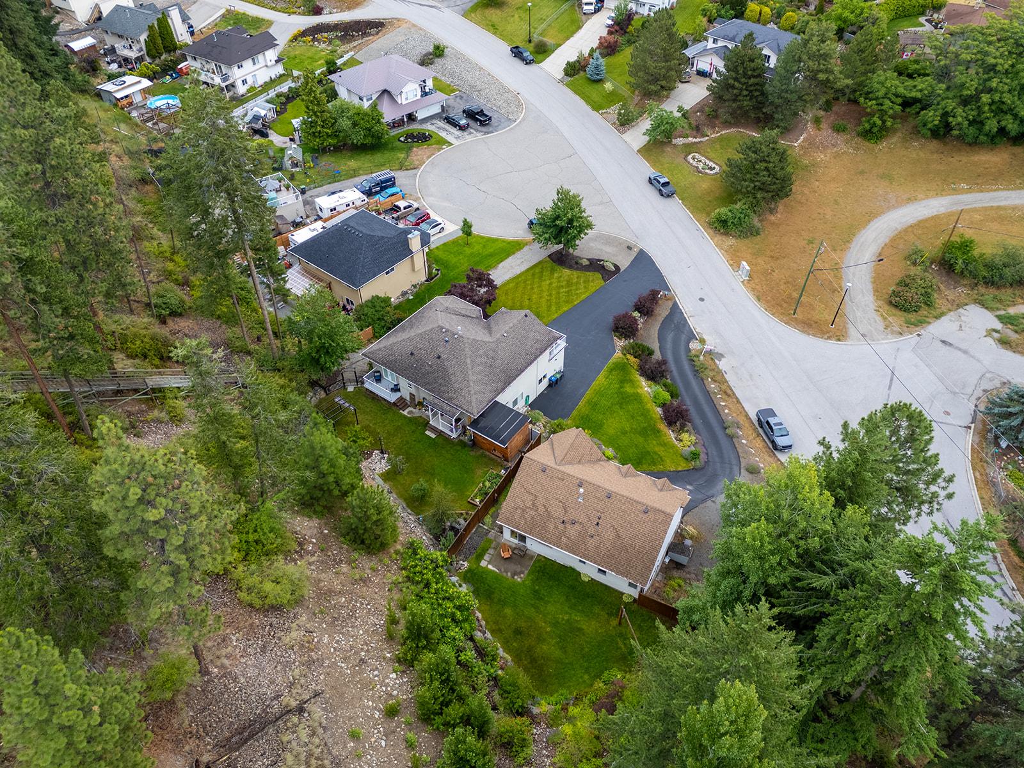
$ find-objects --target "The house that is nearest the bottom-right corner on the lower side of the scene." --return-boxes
[495,427,691,594]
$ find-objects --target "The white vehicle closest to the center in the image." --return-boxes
[423,218,446,235]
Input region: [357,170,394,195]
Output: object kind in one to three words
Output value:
truck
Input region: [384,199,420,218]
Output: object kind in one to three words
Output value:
vehicle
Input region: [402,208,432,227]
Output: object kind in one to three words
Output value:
car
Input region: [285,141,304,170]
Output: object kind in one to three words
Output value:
greenhouse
